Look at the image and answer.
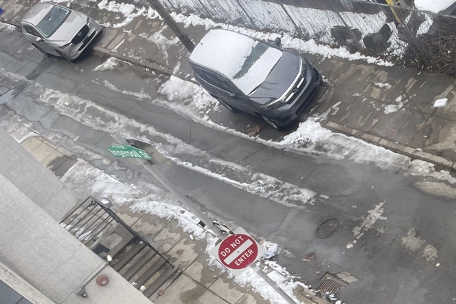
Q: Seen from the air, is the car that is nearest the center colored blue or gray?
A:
gray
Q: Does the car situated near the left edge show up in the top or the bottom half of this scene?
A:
top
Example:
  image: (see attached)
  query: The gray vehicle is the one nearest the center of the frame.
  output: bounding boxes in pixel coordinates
[190,31,322,130]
